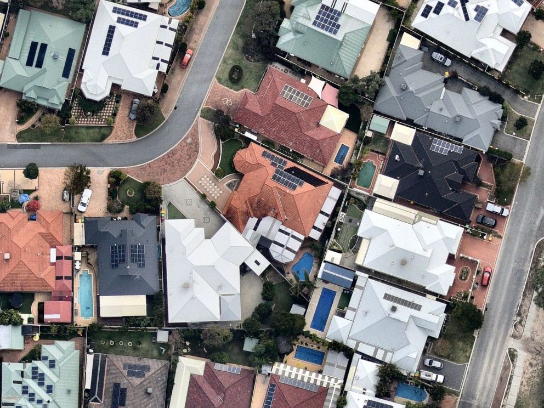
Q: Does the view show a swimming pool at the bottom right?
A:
Yes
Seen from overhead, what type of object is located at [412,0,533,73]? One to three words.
house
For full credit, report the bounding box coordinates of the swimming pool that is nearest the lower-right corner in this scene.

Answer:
[394,381,428,403]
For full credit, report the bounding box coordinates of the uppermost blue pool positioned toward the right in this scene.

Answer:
[334,144,351,166]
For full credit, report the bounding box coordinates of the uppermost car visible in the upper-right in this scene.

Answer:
[432,51,451,66]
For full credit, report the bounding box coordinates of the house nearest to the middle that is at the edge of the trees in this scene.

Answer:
[222,141,341,263]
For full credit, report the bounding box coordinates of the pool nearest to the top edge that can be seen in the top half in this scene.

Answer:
[167,0,192,18]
